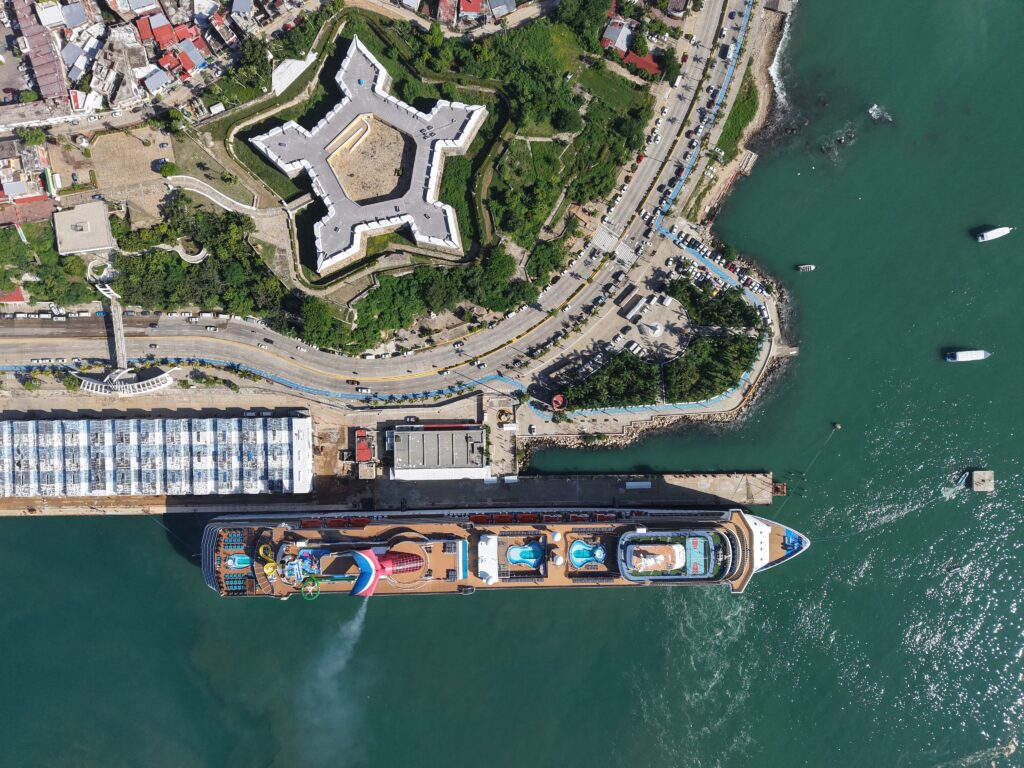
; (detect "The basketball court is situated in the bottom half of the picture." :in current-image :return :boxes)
[685,536,706,576]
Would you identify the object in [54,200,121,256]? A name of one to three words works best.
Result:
building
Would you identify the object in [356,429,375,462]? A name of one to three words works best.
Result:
shed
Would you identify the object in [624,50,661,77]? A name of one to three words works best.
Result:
house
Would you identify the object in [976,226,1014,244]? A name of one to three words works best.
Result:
boat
